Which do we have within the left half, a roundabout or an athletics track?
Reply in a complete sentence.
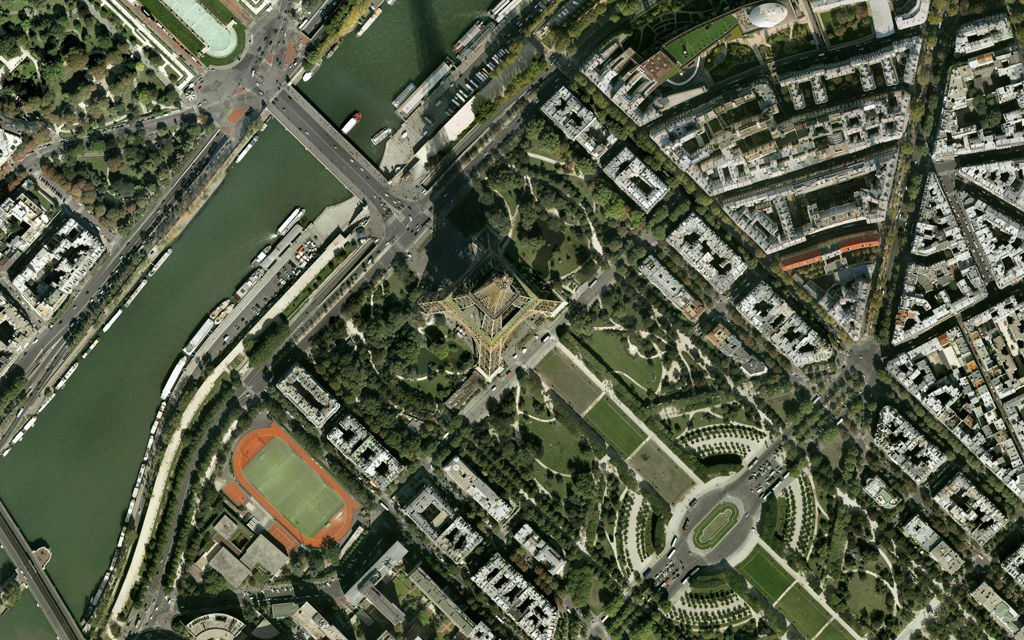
Looking within the left half, you will find an athletics track.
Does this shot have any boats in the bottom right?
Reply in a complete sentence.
No, the scene shows no boat in the bottom right.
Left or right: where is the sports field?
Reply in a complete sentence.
The sports field sits on the left side.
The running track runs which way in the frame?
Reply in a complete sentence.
What the image shows is the running track lying at an angle.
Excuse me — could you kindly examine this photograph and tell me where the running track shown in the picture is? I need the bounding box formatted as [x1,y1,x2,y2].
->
[233,422,361,548]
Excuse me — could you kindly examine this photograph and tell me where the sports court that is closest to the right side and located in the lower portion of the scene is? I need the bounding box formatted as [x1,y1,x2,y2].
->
[267,521,301,556]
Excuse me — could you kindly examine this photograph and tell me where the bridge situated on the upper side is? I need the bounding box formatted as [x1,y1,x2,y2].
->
[264,82,394,208]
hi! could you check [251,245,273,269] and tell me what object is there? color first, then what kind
white boat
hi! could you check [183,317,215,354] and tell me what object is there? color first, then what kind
white boat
